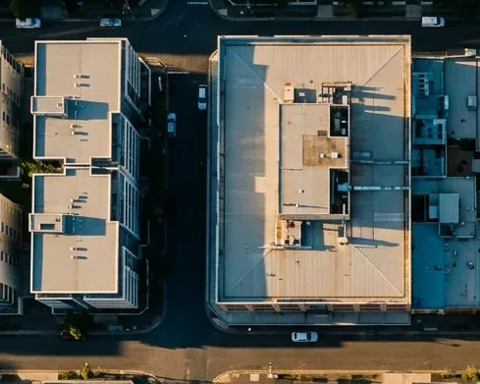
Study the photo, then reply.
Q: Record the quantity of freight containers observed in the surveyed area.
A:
none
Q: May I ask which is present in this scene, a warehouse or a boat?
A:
warehouse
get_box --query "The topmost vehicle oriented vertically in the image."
[195,83,208,111]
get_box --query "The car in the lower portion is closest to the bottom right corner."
[292,331,319,343]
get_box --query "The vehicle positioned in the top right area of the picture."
[418,14,448,29]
